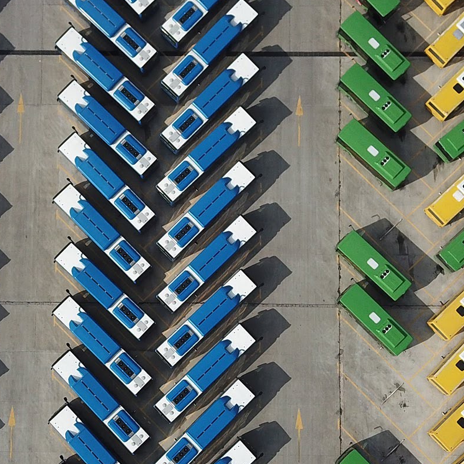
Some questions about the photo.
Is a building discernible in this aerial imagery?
No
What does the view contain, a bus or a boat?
bus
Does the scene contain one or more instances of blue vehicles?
Yes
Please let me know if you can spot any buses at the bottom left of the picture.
Yes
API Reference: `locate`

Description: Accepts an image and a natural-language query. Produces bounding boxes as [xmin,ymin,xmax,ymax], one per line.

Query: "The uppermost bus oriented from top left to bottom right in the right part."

[337,8,409,87]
